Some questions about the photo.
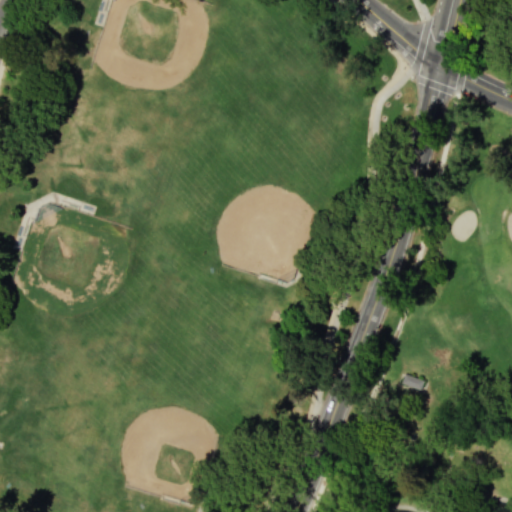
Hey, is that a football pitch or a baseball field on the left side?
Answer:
baseball field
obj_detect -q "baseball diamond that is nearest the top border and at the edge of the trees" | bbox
[94,0,210,90]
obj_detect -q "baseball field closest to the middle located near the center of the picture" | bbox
[217,185,314,282]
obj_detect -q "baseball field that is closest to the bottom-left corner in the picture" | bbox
[122,406,218,502]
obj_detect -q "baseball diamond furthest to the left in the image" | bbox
[16,205,132,315]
